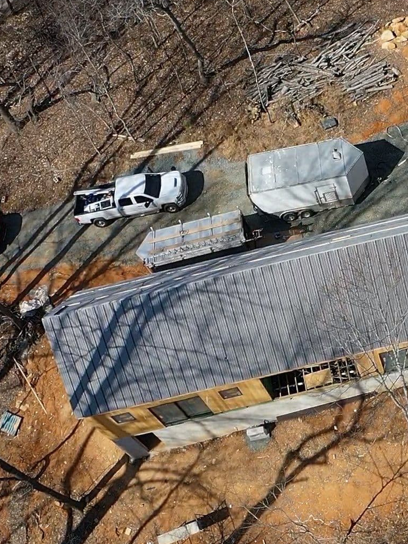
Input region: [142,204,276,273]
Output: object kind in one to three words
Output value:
trailer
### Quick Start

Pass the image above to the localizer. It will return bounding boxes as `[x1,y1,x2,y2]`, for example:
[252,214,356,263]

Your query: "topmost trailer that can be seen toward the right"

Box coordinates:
[247,137,391,222]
